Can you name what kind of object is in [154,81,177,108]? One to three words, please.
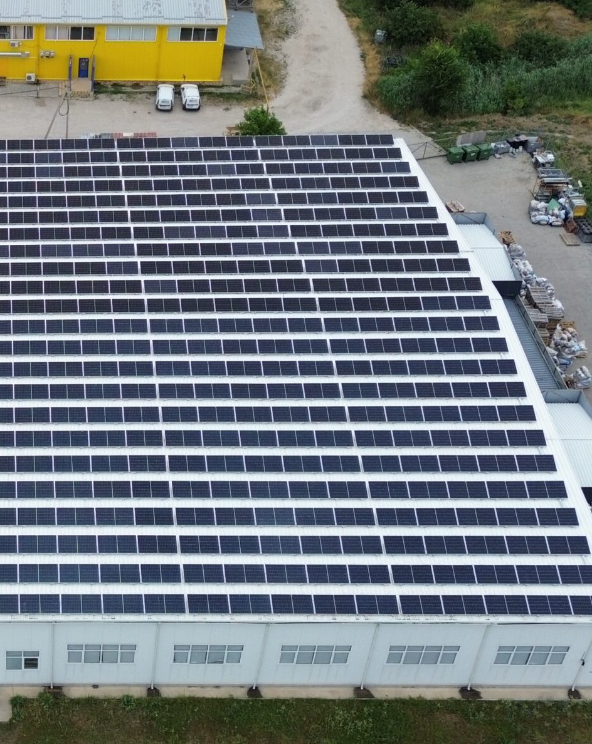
vehicle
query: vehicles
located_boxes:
[154,81,177,108]
[178,81,202,108]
